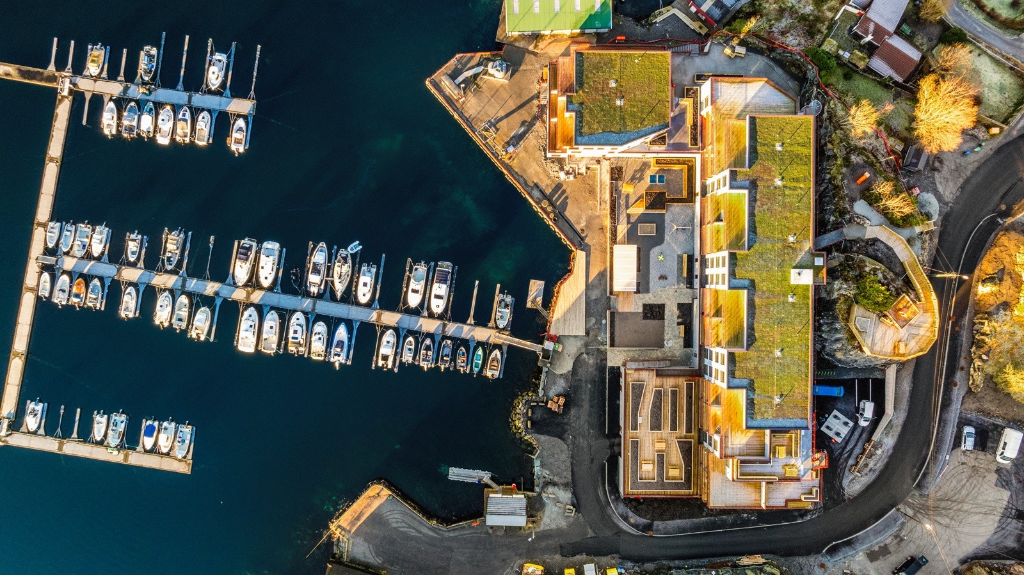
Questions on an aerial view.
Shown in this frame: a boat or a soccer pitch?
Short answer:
boat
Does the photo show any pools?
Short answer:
No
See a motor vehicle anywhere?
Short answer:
Yes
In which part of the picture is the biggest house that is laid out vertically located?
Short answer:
right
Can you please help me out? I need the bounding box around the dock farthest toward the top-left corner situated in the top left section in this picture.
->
[0,62,64,89]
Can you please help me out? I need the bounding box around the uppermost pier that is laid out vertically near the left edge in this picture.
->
[0,94,75,419]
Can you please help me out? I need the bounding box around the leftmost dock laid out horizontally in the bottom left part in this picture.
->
[3,430,194,474]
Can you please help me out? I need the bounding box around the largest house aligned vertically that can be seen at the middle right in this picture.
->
[696,76,827,510]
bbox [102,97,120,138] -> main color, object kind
white boat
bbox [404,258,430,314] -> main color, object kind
white boat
